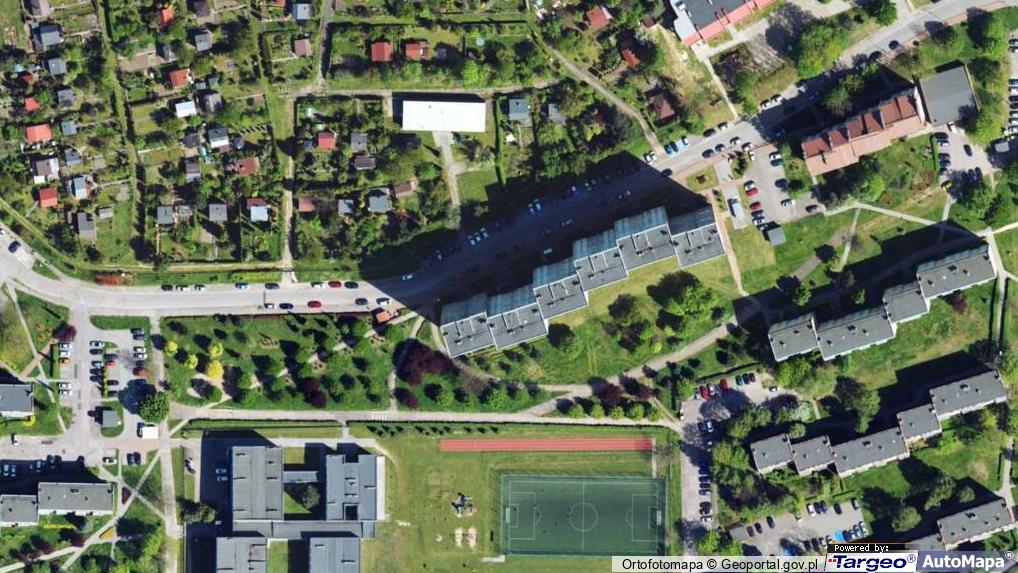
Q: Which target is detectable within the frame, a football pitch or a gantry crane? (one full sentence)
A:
I can see a football pitch in this picture.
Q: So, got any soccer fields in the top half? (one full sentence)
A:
No, no soccer field appears in the top half.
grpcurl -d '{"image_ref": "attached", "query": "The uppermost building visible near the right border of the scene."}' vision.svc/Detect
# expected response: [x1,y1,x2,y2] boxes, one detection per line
[919,62,979,125]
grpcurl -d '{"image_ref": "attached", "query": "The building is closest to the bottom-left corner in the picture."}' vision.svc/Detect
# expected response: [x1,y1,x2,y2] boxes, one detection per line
[0,477,115,525]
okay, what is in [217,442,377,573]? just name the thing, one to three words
building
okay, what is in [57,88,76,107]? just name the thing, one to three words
shed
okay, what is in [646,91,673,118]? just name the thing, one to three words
shed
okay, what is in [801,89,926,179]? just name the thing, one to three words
house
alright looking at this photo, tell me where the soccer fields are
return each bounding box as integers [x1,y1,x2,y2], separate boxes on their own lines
[501,476,666,556]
